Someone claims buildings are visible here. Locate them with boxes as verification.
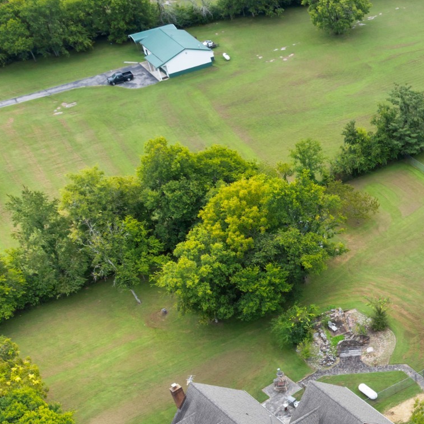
[137,27,213,80]
[167,375,390,424]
